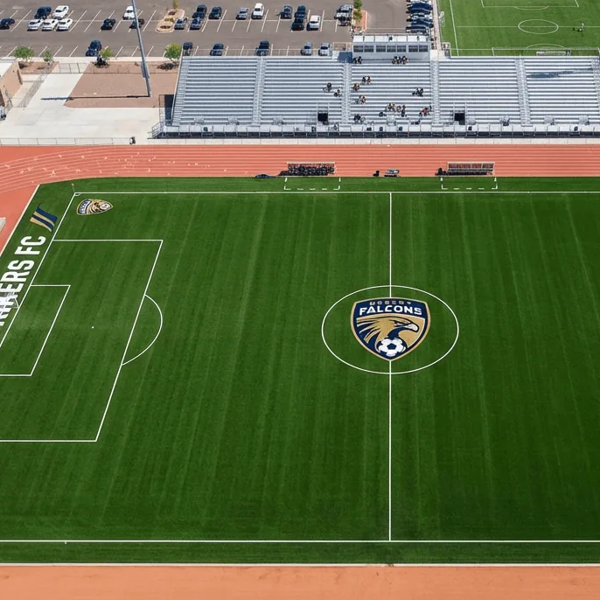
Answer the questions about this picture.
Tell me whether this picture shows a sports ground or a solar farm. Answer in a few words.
sports ground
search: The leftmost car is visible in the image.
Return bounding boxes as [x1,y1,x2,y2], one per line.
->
[0,14,14,30]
